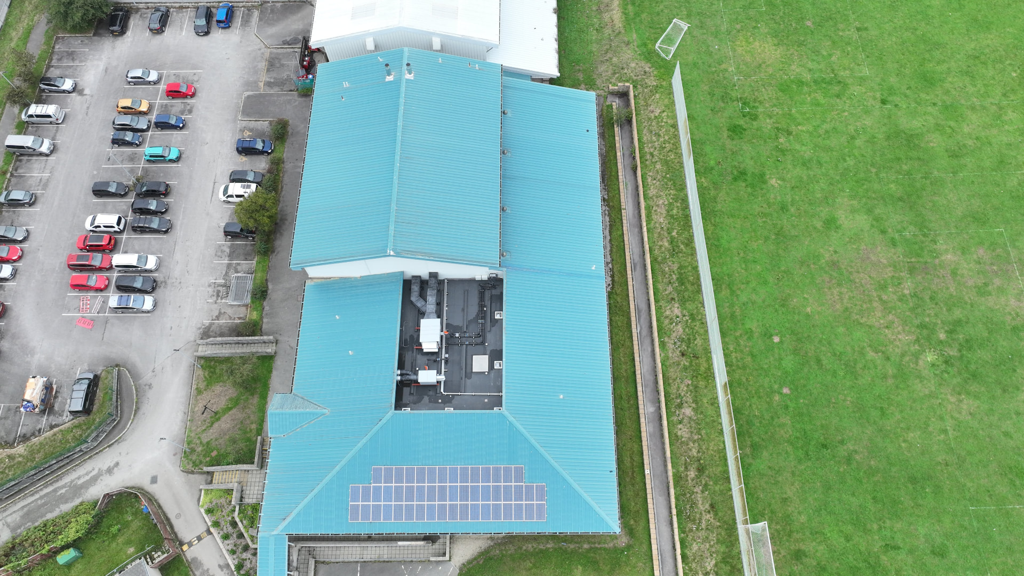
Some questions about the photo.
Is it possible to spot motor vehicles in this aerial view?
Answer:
Yes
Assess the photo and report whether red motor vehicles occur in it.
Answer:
Yes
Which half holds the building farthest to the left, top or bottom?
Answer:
bottom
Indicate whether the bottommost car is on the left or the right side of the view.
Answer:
left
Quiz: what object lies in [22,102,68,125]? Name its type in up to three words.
vehicle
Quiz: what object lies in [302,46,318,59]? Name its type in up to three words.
vehicle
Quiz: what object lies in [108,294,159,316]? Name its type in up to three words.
car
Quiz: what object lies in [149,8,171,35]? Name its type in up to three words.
car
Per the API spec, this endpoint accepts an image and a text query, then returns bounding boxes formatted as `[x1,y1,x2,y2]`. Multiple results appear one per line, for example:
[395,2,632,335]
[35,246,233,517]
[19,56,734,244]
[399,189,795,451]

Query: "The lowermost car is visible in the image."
[66,371,101,419]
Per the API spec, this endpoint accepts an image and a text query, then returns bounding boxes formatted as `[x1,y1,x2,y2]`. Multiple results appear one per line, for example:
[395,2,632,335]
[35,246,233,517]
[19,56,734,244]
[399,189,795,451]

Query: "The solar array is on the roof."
[348,467,547,521]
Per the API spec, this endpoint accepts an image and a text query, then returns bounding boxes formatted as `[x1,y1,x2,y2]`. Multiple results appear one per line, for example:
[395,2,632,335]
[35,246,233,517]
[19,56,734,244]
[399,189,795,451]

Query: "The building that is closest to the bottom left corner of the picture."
[54,545,84,568]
